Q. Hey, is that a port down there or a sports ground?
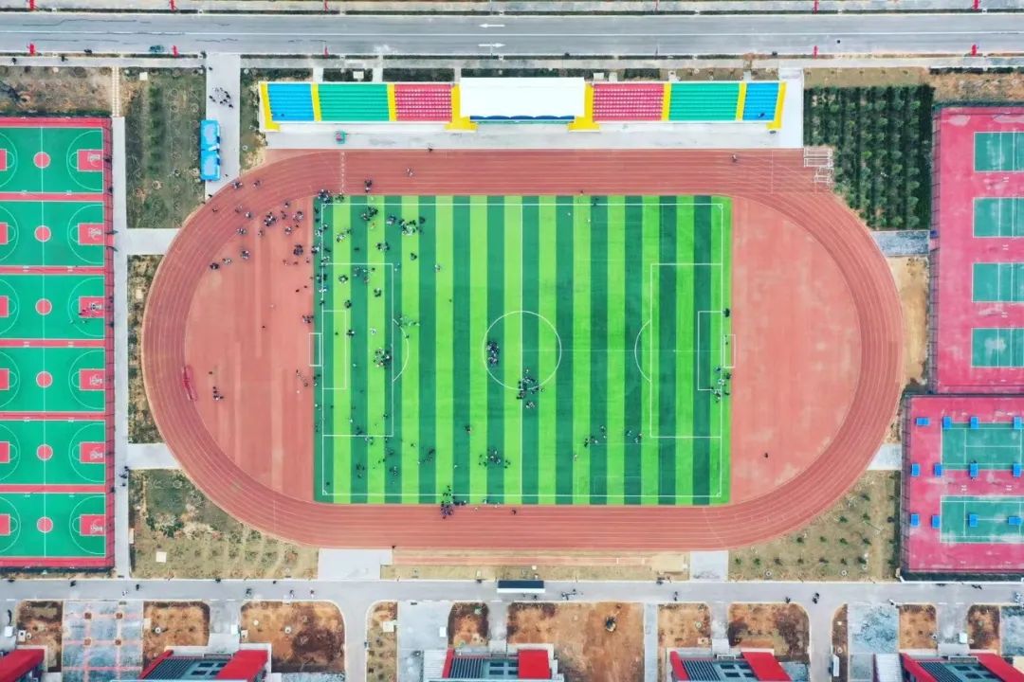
sports ground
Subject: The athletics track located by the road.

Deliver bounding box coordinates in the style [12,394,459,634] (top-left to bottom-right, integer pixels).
[141,147,904,552]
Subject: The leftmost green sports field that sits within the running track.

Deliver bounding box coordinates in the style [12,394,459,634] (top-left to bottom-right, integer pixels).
[314,195,732,505]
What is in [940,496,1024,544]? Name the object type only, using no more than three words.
tennis court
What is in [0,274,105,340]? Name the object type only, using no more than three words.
basketball court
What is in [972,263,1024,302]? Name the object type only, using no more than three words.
sports court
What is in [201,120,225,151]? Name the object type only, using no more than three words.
tent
